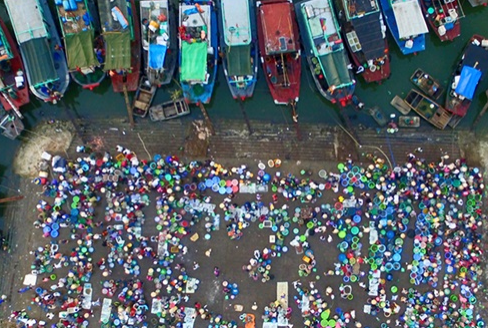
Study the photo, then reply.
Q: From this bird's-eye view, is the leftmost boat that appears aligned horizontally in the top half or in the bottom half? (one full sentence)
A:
The leftmost boat that appears aligned horizontally sits in the top half of the picture.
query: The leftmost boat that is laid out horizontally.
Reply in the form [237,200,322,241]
[149,99,192,122]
